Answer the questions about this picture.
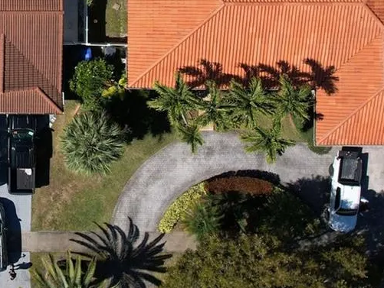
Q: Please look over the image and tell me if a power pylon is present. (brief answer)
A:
No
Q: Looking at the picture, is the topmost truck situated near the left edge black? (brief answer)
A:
Yes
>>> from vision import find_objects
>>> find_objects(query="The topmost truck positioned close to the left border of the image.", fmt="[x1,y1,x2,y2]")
[5,116,41,197]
